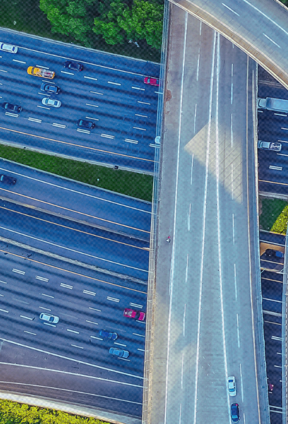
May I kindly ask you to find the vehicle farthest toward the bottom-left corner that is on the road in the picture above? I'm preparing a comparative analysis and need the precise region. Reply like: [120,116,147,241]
[40,312,61,324]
